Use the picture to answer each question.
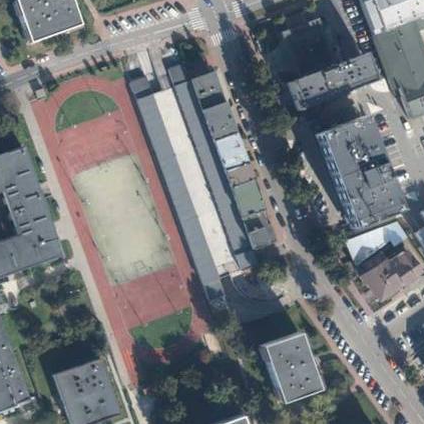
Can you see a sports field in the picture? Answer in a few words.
Yes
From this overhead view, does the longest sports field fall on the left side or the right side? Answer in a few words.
left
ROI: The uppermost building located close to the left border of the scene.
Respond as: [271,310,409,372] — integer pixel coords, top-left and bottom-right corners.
[13,0,84,43]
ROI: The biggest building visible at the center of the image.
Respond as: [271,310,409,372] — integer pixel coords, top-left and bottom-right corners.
[132,83,245,280]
